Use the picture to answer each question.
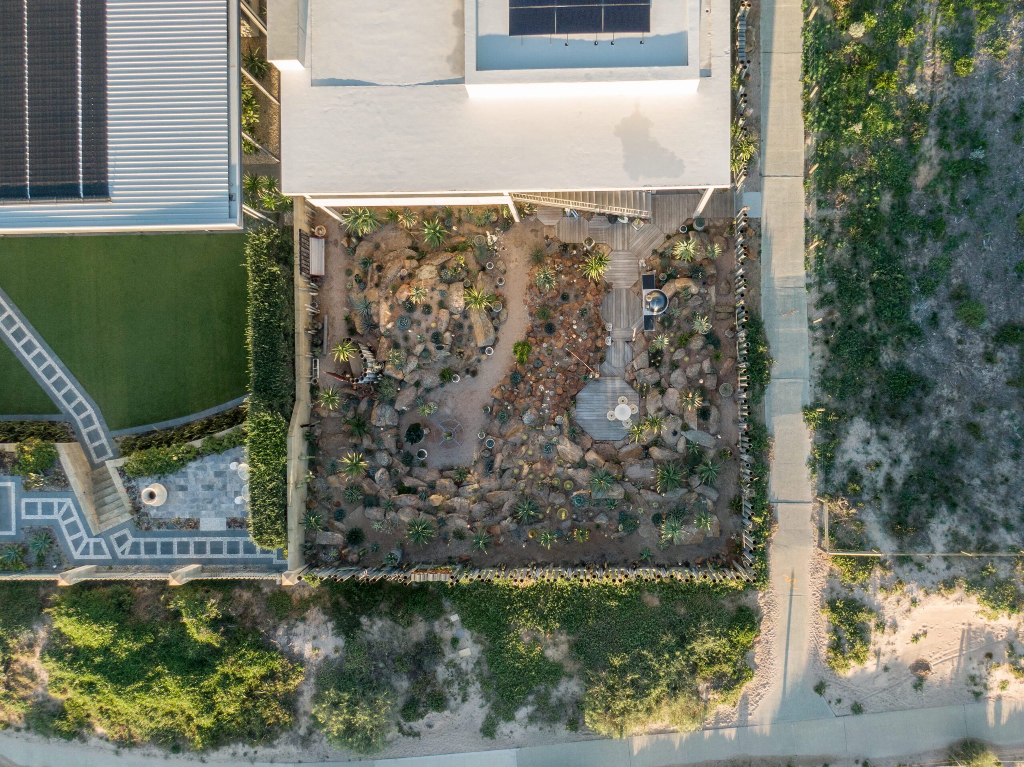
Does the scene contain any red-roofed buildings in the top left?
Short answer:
No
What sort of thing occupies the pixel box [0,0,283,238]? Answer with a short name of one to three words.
house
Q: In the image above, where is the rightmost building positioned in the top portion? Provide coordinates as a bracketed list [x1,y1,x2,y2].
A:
[267,0,730,222]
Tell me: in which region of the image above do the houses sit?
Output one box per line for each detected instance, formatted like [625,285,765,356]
[267,0,730,222]
[0,0,283,238]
